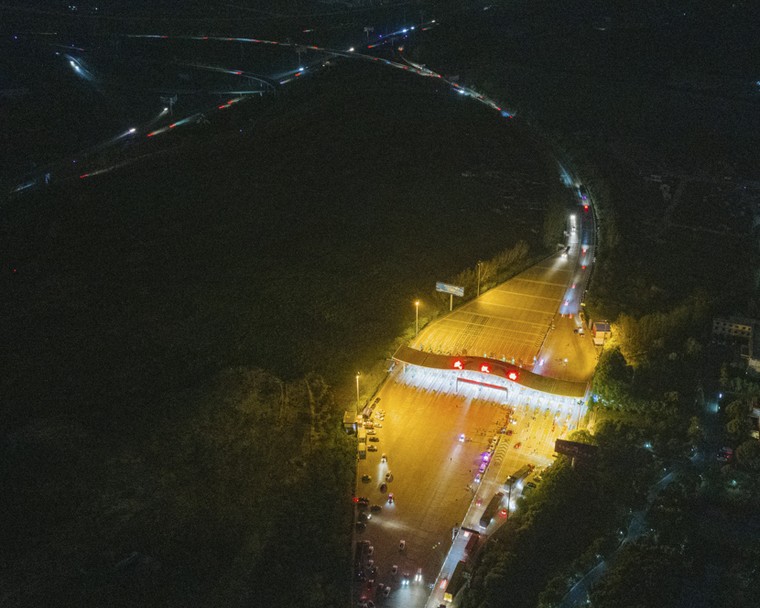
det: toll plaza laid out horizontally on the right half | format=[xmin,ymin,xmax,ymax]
[393,344,592,419]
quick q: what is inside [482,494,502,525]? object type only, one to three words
vehicle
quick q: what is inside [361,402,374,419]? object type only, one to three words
vehicle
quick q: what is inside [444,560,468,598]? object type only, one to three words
truck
